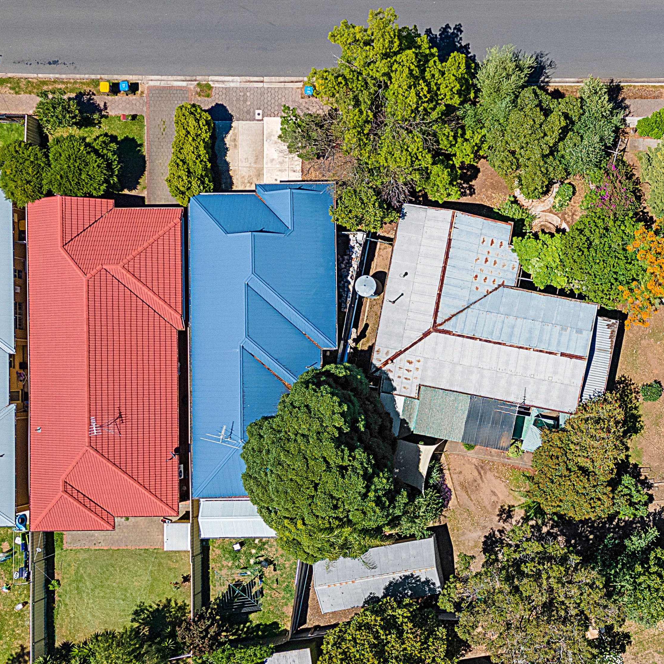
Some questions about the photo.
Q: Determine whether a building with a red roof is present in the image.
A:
Yes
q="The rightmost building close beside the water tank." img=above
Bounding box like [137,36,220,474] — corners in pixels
[369,201,601,415]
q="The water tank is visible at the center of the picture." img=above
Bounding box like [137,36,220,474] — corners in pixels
[355,275,381,297]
